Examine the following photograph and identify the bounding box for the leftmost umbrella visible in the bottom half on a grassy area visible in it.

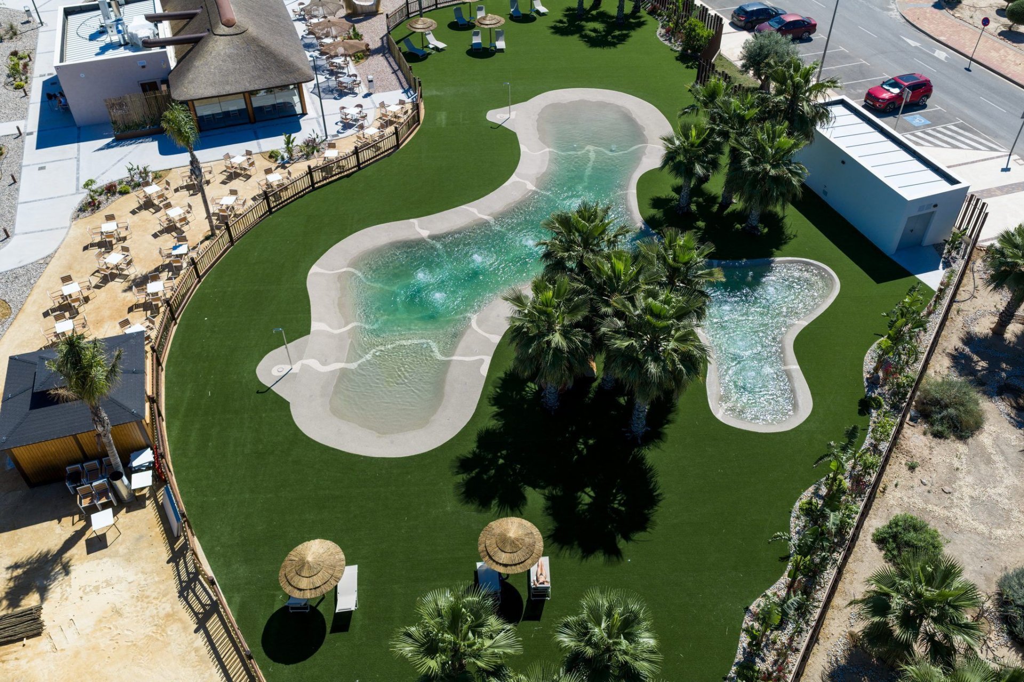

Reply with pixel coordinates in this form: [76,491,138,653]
[278,542,347,602]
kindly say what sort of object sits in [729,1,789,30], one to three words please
car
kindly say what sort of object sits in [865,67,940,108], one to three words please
car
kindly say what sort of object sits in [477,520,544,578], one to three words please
umbrella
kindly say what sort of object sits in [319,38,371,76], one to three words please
umbrella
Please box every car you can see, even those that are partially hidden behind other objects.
[754,12,819,41]
[729,1,789,30]
[865,67,940,108]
